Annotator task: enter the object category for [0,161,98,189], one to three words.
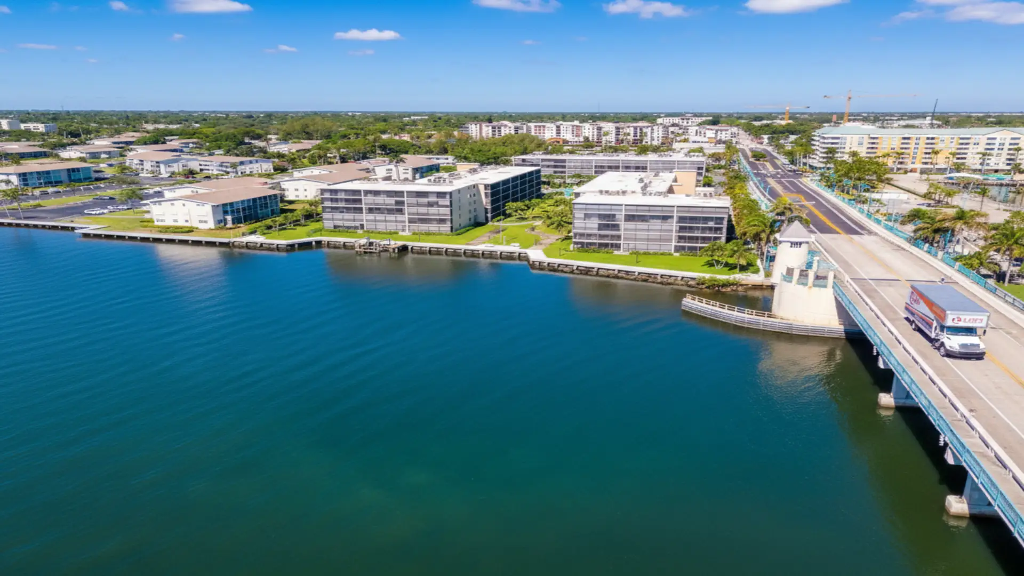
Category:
house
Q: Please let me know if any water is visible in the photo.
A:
Yes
